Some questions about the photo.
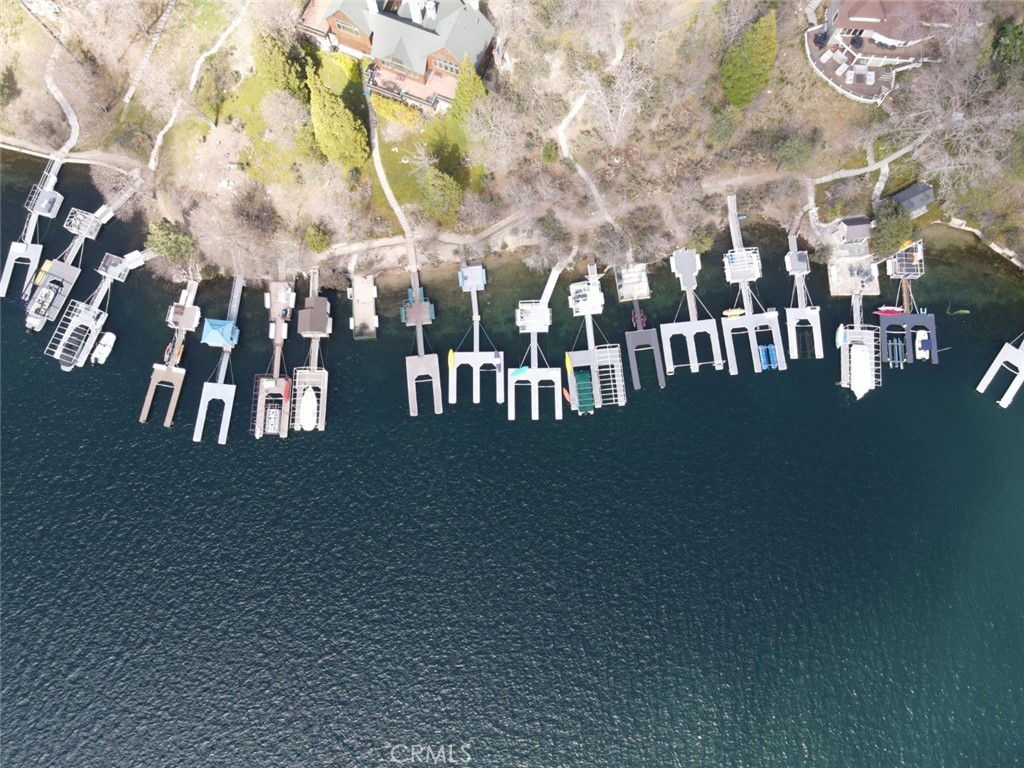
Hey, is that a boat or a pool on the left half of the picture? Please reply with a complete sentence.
Looking on the left half of the picture, you will find a boat.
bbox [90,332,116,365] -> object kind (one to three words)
boat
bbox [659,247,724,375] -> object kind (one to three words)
pier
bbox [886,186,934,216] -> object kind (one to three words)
shed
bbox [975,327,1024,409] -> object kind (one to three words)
pier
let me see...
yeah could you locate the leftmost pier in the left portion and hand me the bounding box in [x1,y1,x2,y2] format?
[0,153,68,301]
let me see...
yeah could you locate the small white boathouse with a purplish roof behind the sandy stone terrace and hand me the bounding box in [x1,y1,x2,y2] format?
[833,217,873,250]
